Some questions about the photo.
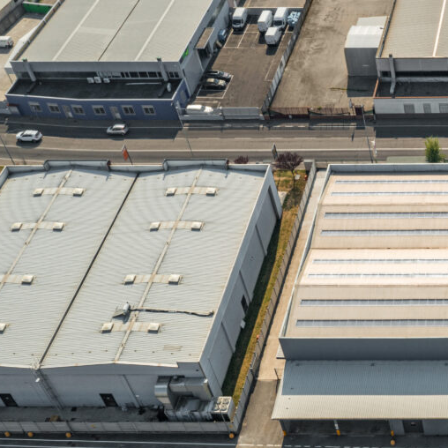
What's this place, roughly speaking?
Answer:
industrial area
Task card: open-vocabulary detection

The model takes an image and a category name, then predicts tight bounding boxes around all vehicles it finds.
[229,5,247,31]
[204,68,233,79]
[261,26,282,49]
[14,128,44,142]
[270,3,289,30]
[203,76,229,88]
[104,123,131,135]
[0,34,15,48]
[214,29,233,41]
[254,11,273,33]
